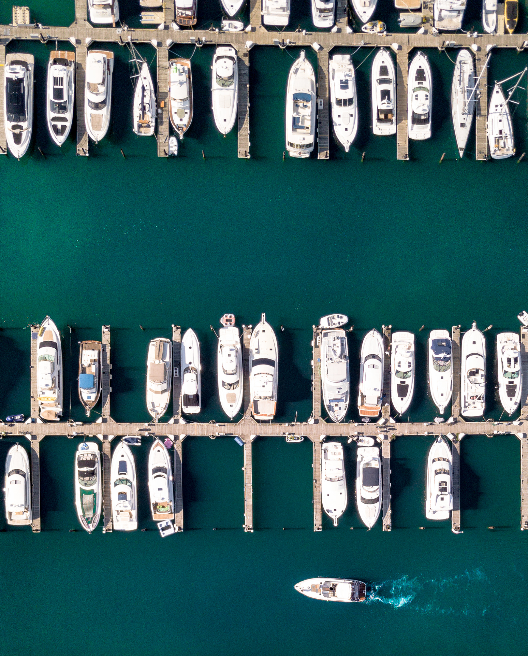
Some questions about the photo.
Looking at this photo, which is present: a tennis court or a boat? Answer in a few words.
boat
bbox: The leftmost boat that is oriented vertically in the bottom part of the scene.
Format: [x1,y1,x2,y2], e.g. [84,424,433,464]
[4,435,33,526]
